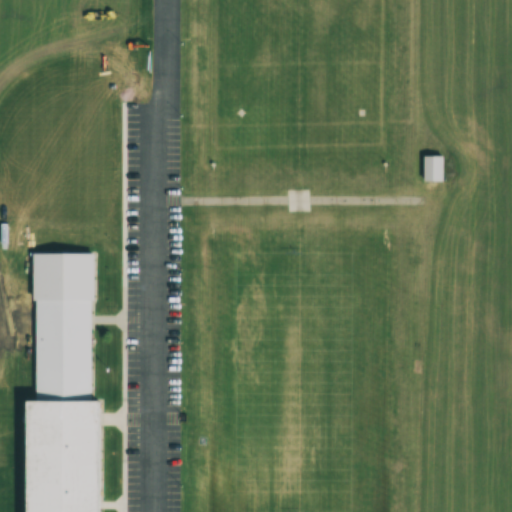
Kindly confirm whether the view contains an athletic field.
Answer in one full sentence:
Yes, you can see an athletic field in this photo.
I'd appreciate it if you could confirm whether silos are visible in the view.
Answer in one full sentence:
No, no silo is visible in the scene.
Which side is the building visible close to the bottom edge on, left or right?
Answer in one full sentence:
It is on the left.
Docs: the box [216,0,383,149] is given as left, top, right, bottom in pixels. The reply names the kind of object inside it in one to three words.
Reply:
sports field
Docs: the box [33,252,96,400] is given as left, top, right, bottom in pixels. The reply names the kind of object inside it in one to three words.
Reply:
building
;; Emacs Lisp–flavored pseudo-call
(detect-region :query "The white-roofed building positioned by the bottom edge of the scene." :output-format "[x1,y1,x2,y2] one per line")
[26,400,104,512]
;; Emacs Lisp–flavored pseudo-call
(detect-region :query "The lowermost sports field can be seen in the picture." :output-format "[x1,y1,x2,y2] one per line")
[236,252,353,512]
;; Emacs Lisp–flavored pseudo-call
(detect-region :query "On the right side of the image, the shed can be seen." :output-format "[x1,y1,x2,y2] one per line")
[424,156,444,182]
